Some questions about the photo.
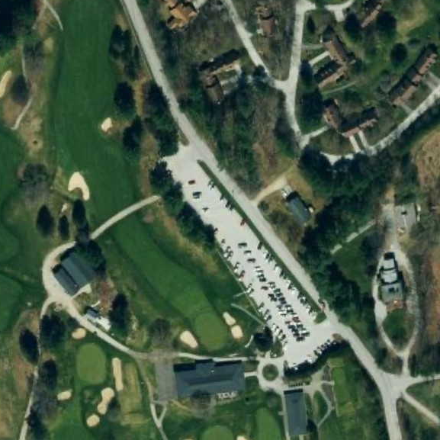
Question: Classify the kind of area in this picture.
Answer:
golf course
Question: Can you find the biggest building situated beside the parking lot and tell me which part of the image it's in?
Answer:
bottom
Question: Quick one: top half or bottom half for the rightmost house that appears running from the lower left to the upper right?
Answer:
top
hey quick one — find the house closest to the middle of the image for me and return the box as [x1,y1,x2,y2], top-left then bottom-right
[286,196,311,223]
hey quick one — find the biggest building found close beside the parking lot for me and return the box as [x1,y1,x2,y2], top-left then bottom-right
[173,357,247,399]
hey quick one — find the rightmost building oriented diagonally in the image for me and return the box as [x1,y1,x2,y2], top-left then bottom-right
[386,45,440,105]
